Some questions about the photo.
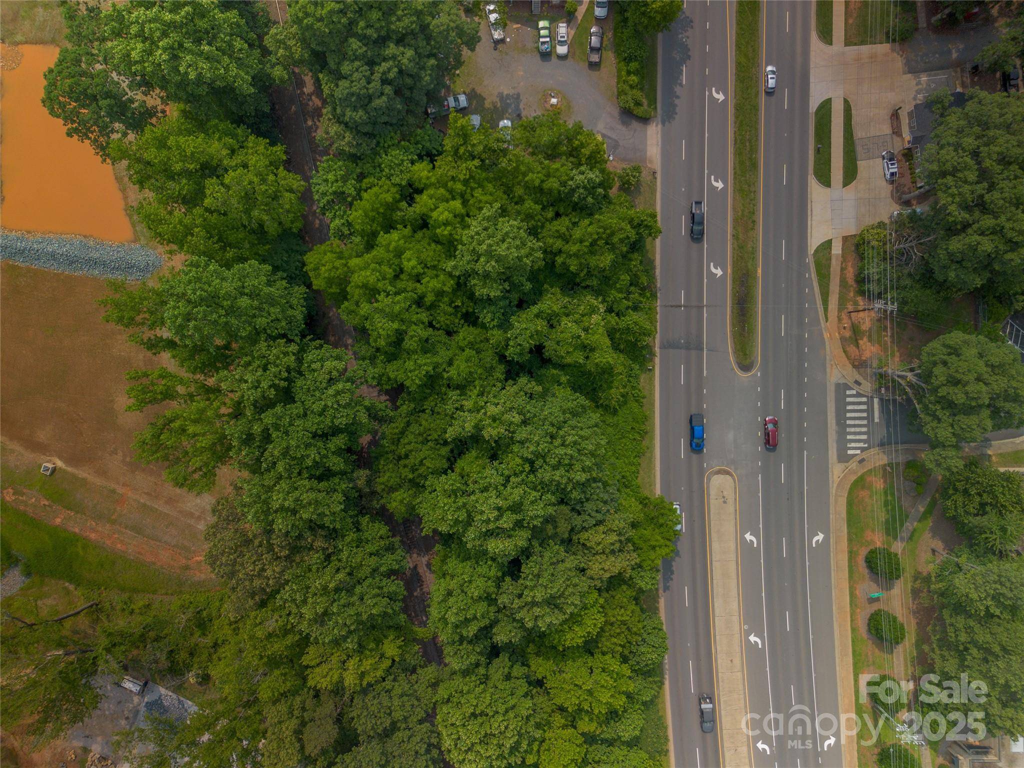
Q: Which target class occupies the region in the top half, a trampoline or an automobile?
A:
automobile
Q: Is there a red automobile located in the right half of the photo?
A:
Yes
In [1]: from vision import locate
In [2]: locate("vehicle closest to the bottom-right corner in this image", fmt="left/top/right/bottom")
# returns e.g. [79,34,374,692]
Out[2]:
[697,692,714,731]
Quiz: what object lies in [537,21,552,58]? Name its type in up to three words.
vehicle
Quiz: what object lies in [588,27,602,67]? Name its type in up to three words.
vehicle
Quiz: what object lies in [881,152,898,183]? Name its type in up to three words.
car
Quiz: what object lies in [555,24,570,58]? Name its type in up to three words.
car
